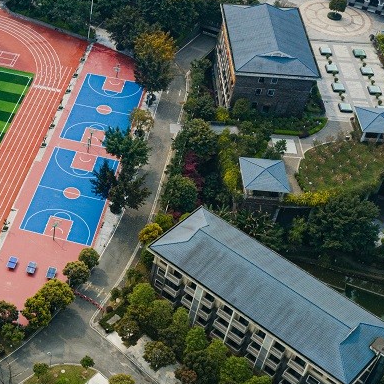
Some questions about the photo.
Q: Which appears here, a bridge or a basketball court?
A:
basketball court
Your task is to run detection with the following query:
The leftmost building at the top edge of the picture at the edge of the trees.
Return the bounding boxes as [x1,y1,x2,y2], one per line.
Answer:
[214,0,322,116]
